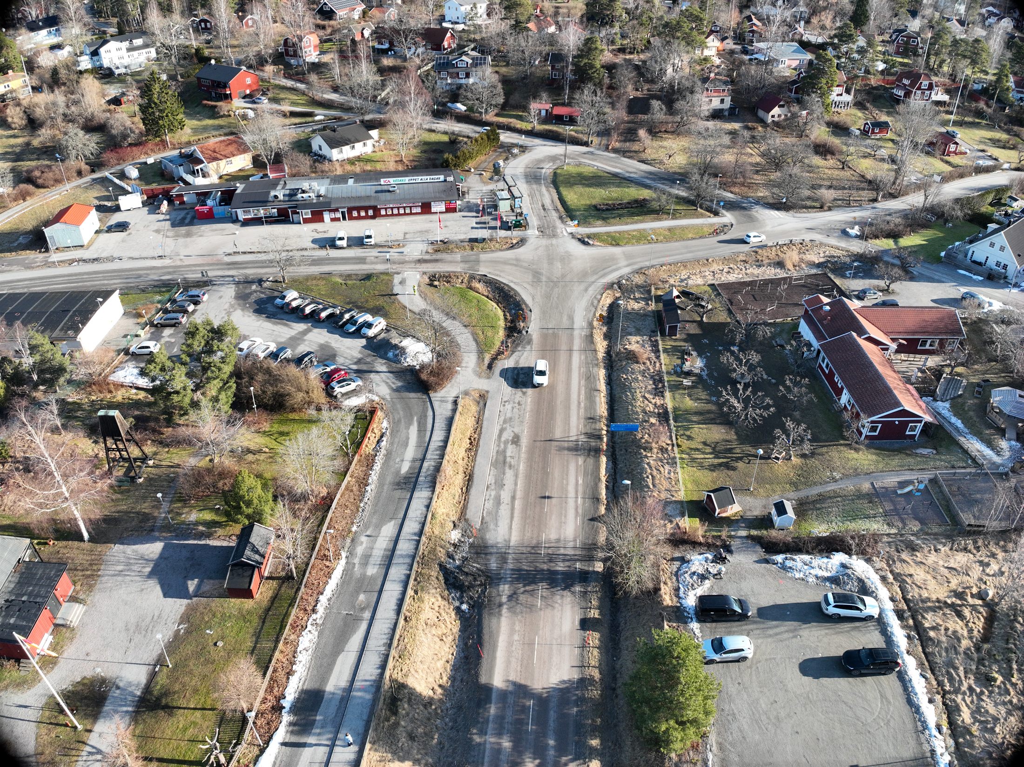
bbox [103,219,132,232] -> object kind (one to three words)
vehicle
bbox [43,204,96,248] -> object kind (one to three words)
building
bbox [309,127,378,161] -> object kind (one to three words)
house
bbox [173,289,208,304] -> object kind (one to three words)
car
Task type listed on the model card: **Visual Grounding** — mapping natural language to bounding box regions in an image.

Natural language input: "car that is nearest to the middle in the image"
[531,356,549,385]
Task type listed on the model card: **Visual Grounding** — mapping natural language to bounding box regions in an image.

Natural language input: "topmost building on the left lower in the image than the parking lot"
[96,407,157,483]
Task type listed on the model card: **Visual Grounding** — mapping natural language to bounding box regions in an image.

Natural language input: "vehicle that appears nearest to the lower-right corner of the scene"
[840,646,909,677]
